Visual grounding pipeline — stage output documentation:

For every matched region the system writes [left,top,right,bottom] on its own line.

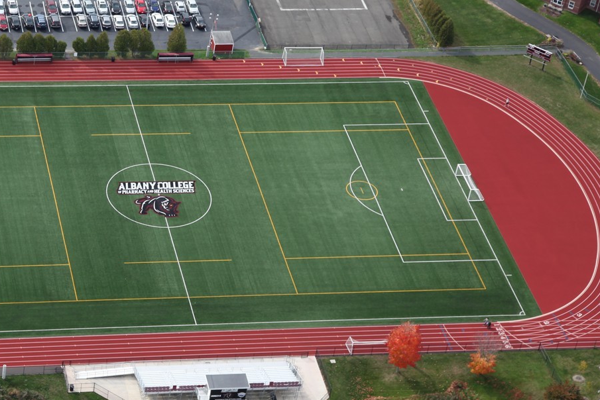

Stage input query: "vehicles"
[9,16,21,30]
[70,0,83,13]
[113,17,124,30]
[87,11,99,29]
[46,0,58,15]
[96,0,109,15]
[99,16,112,29]
[76,16,87,30]
[162,1,174,15]
[0,0,6,15]
[83,0,95,15]
[148,0,161,13]
[109,0,121,15]
[123,0,136,15]
[193,15,206,29]
[7,1,19,15]
[135,0,147,13]
[187,0,199,13]
[35,16,47,29]
[0,15,8,30]
[138,16,150,29]
[165,16,175,29]
[58,0,72,15]
[174,2,187,13]
[151,15,165,28]
[126,16,139,29]
[179,13,191,25]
